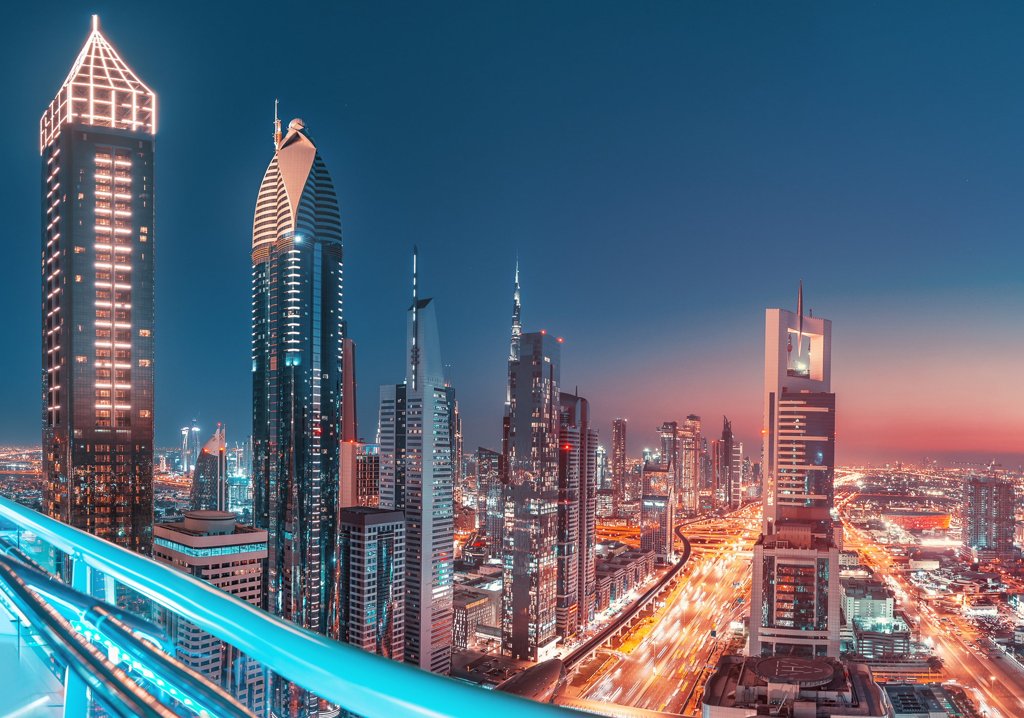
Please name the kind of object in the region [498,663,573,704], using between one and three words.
train station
